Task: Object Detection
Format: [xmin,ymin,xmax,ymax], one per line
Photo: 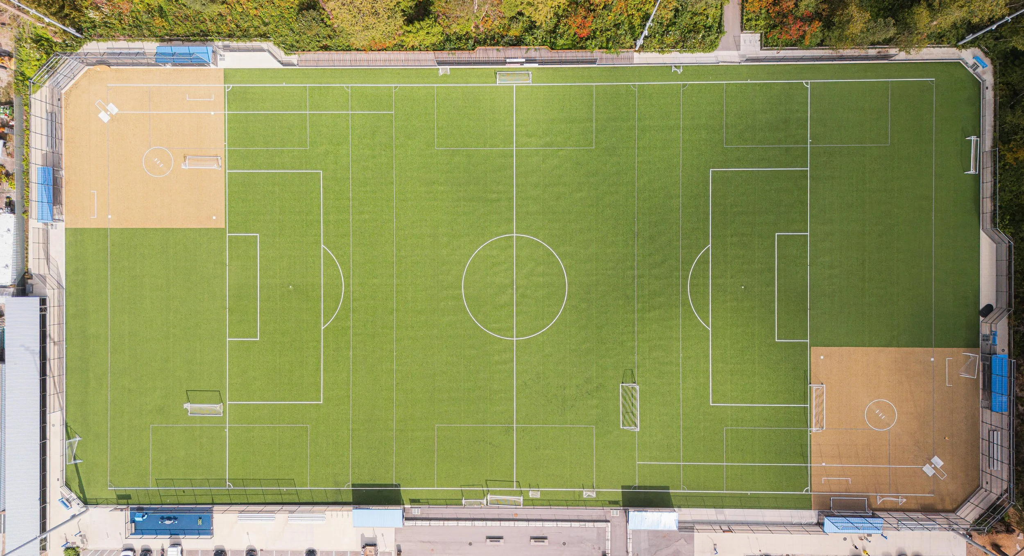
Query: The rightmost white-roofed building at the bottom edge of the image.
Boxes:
[626,505,678,531]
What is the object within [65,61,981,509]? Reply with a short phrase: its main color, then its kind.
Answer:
green sports field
